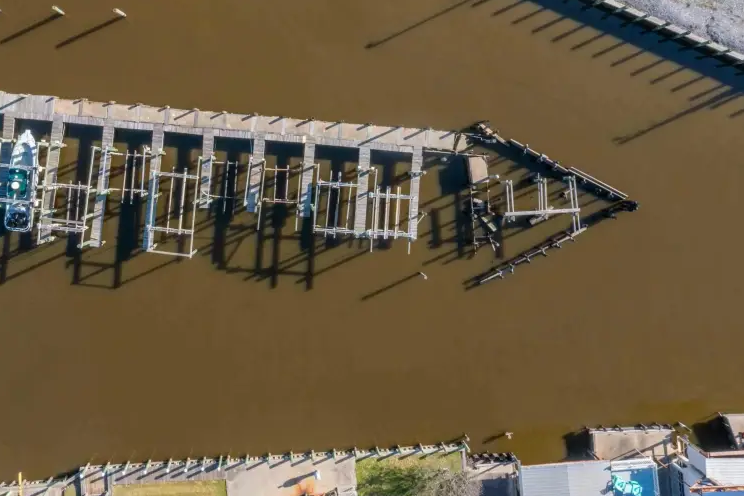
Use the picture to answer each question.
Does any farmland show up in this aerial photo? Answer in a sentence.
No, there is no farmland in the image.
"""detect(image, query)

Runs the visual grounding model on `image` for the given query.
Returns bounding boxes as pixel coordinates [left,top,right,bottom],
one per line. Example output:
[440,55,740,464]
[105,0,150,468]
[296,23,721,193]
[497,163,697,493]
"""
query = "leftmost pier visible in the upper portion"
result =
[0,90,455,252]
